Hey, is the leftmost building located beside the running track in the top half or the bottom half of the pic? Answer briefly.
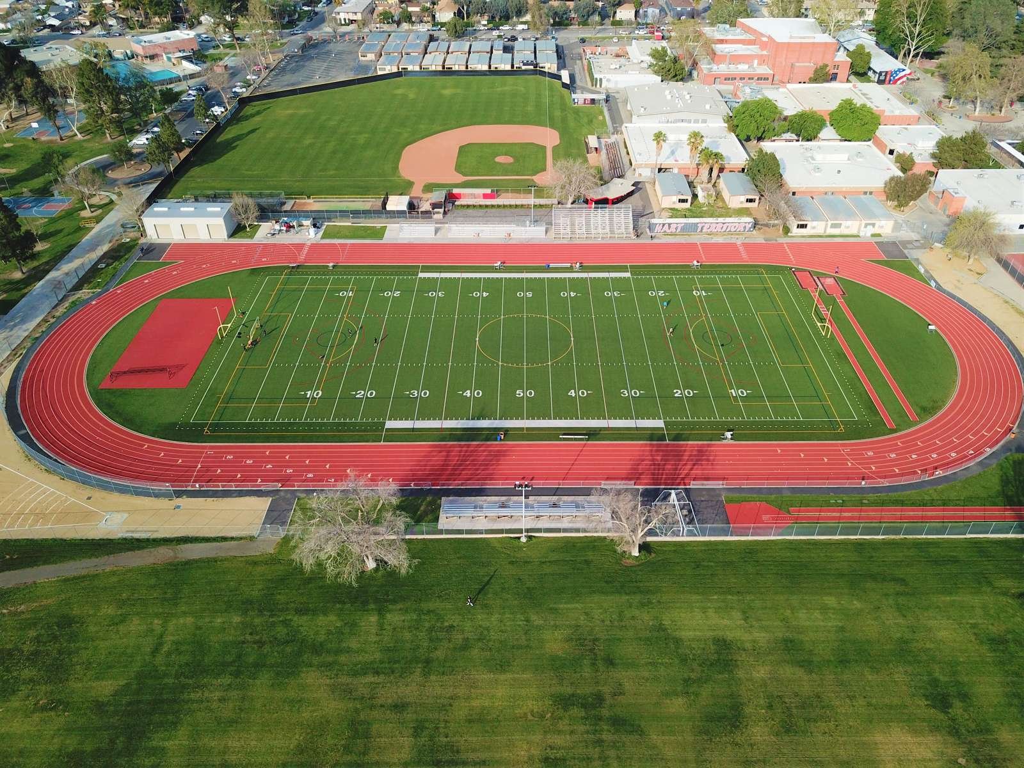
top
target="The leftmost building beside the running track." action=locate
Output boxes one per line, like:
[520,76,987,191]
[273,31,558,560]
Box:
[142,203,239,239]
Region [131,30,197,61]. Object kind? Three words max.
building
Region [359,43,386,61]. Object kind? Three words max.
building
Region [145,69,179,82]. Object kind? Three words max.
swimming pool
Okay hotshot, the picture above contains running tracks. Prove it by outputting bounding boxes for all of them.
[20,259,1024,488]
